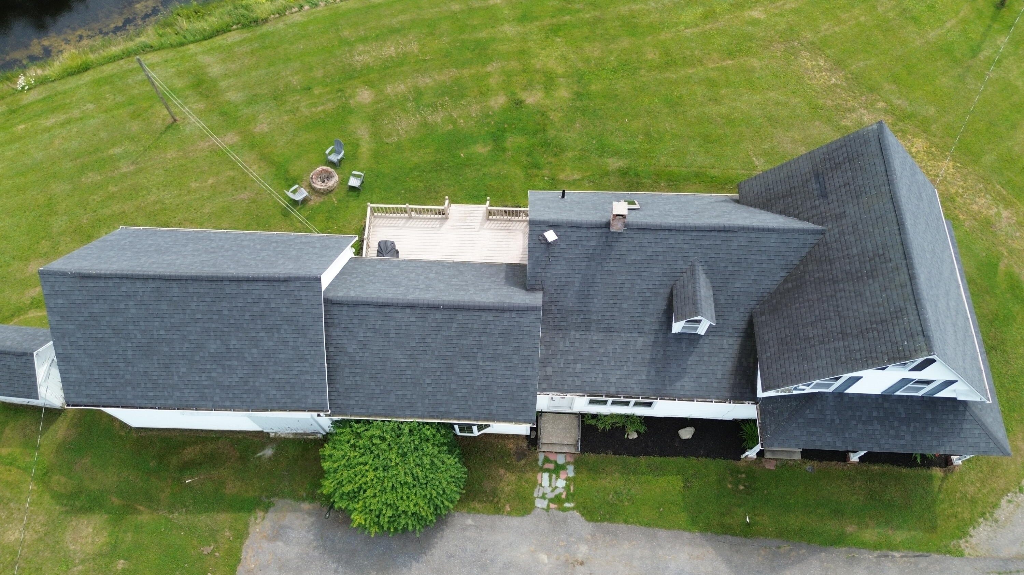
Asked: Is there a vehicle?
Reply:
No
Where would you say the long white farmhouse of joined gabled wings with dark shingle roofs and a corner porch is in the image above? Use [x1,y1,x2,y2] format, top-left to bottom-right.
[38,119,1014,465]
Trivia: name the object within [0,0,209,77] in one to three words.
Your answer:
pond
